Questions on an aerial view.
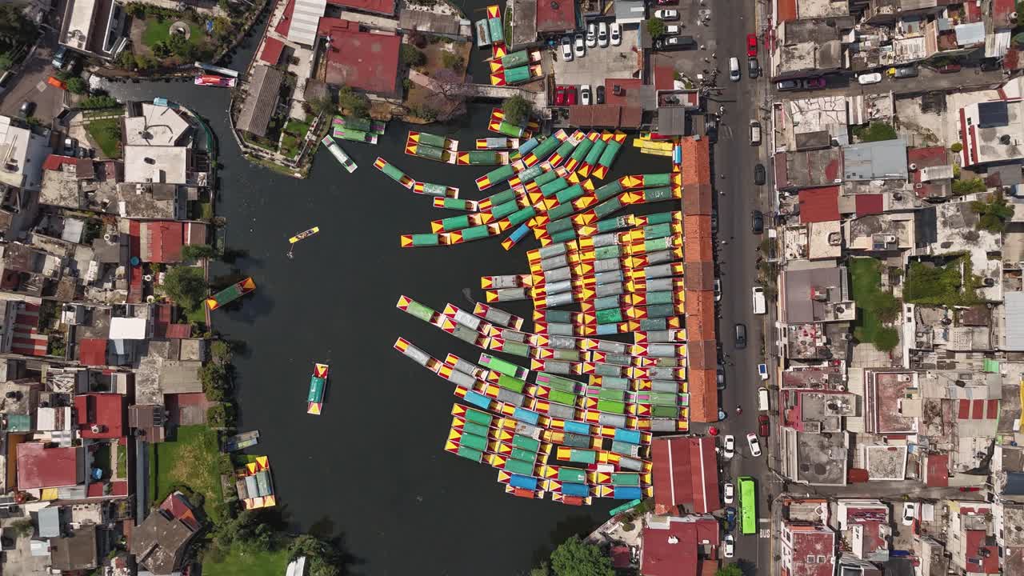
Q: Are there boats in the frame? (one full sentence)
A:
Yes, there's a boat down there.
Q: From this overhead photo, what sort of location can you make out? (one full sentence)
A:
What you see here is a residential area.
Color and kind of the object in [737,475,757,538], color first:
green bus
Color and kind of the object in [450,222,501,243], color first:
green boat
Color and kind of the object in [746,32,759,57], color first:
red vehicle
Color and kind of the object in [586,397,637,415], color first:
green boat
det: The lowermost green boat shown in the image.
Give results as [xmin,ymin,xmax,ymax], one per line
[609,501,638,518]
